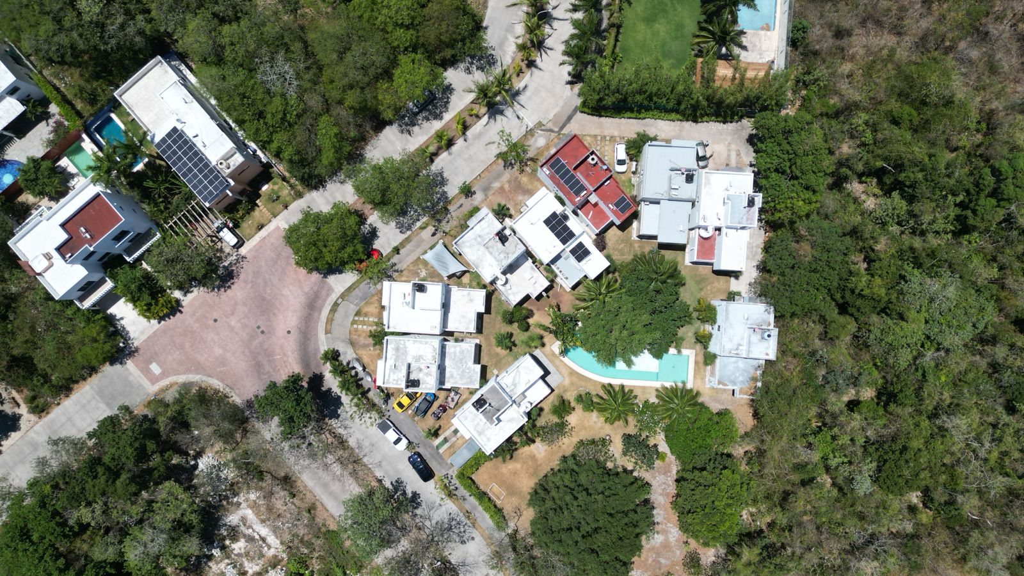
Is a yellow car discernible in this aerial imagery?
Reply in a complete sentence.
Yes, the frame does contain a yellow car.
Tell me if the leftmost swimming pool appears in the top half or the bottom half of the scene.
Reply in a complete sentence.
The leftmost swimming pool is in the top half of the image.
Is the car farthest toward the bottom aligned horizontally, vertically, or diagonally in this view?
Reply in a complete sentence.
The car farthest toward the bottom is oriented diagonally.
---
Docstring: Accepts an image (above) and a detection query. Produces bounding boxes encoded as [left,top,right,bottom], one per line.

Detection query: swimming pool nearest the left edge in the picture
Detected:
[0,157,21,191]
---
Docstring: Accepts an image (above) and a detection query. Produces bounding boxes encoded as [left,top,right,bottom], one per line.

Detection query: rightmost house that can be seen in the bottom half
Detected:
[707,301,778,399]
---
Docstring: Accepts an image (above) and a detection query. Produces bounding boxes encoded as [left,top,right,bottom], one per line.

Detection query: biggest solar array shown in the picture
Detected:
[155,127,226,202]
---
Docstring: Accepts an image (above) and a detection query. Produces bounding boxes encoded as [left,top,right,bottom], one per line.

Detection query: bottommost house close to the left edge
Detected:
[8,174,161,309]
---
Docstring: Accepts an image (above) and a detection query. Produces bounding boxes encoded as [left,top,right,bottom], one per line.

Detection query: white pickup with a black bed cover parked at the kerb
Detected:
[375,418,410,451]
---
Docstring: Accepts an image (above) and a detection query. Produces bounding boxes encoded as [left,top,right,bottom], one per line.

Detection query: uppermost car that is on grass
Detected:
[613,142,628,174]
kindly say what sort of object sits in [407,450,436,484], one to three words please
car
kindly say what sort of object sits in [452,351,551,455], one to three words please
house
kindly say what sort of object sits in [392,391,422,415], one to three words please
car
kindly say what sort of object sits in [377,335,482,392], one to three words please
house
